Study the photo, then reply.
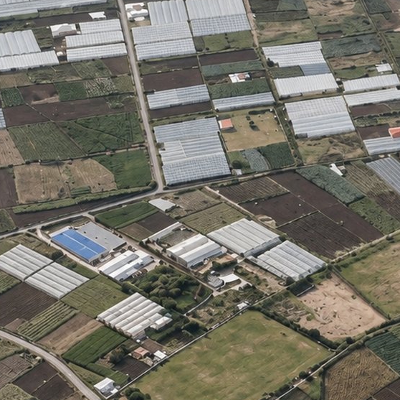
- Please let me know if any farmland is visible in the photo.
Yes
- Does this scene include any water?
No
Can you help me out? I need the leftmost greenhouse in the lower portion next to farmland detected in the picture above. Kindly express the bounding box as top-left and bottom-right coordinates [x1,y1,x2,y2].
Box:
[0,244,53,282]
